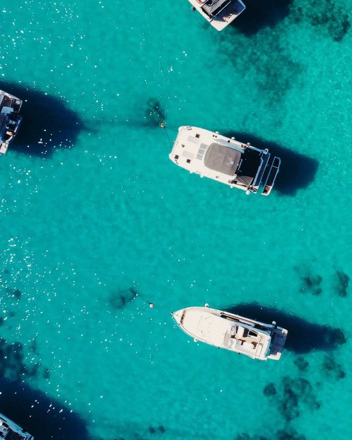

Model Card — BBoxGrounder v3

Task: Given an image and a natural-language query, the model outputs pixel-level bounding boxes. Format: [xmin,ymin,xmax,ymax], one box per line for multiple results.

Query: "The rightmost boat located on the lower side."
[153,304,287,360]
